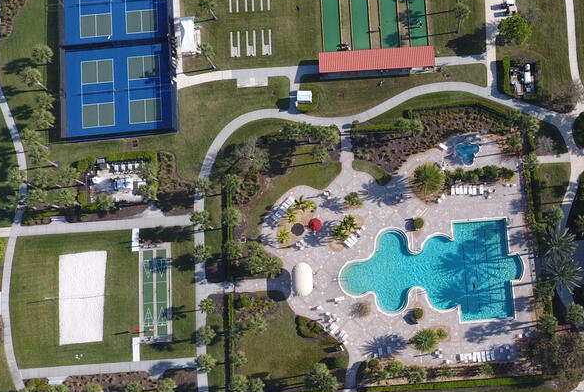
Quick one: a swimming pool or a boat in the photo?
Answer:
swimming pool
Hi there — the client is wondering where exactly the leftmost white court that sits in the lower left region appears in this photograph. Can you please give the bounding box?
[49,251,109,345]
